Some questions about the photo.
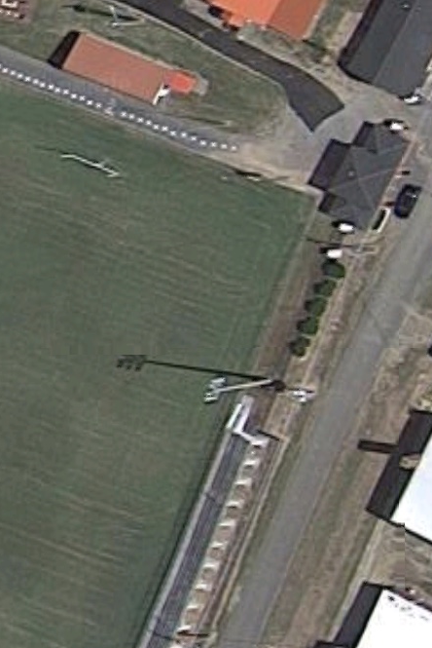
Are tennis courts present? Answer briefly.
No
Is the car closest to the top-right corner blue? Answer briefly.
No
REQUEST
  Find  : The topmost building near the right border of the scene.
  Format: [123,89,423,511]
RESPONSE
[347,0,432,95]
